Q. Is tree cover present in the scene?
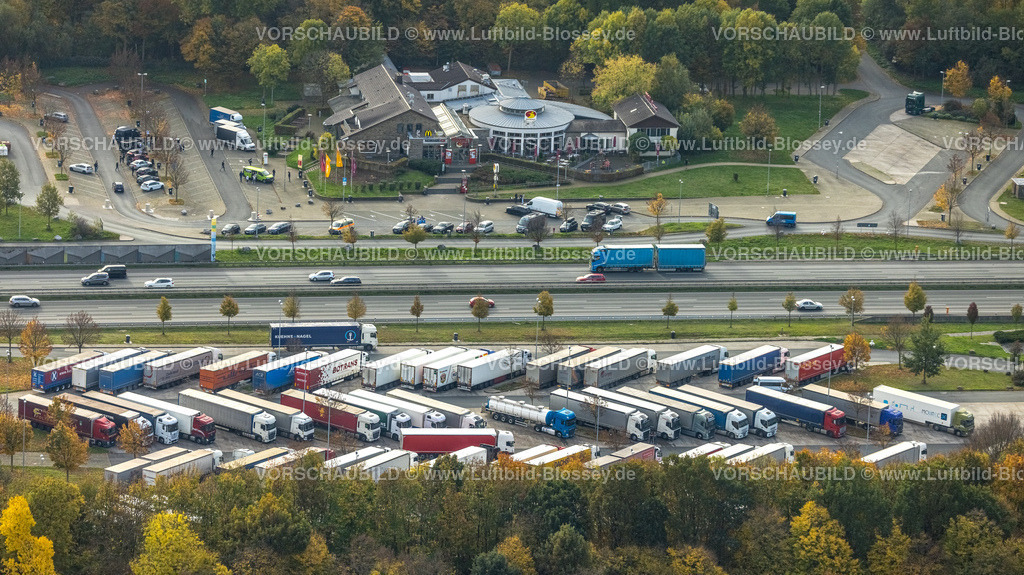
Yes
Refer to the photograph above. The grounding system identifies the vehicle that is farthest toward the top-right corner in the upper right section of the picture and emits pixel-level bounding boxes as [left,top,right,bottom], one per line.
[902,92,931,114]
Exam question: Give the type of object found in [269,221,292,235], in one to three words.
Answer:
car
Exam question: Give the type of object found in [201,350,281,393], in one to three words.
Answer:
truck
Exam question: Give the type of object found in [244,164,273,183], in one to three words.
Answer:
vehicle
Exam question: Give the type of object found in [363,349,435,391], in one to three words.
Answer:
truck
